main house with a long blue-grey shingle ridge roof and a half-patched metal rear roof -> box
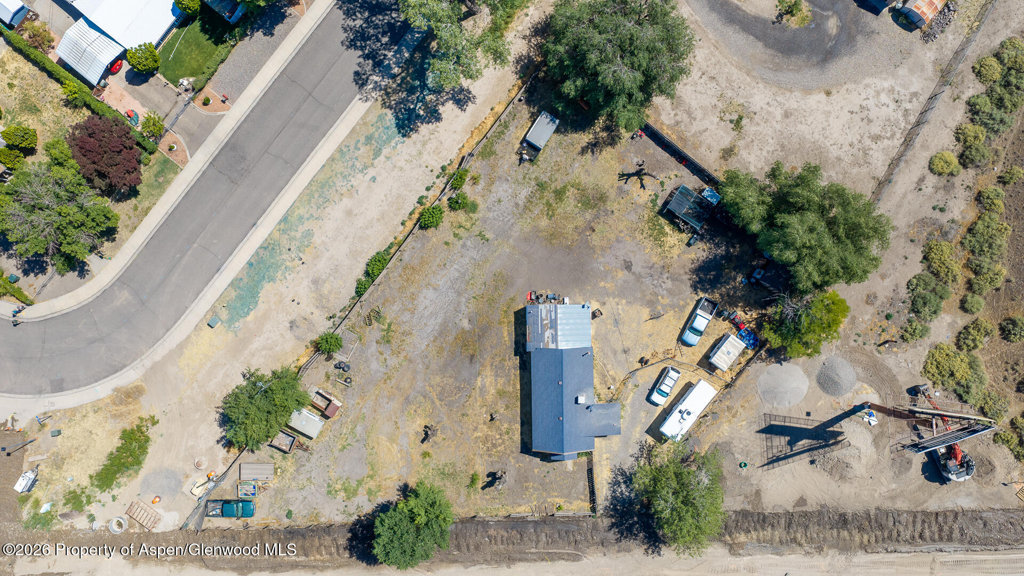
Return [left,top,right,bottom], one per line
[526,303,620,460]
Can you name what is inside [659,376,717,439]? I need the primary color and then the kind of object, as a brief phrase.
white vehicle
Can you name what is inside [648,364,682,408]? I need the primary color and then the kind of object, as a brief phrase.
white car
